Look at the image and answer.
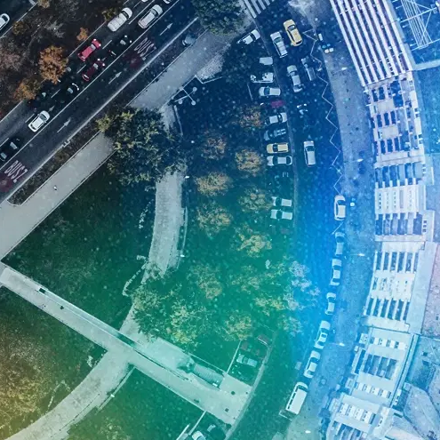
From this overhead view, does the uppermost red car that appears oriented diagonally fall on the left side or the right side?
left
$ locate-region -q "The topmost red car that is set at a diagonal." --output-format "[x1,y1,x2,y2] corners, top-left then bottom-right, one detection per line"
[78,38,103,62]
